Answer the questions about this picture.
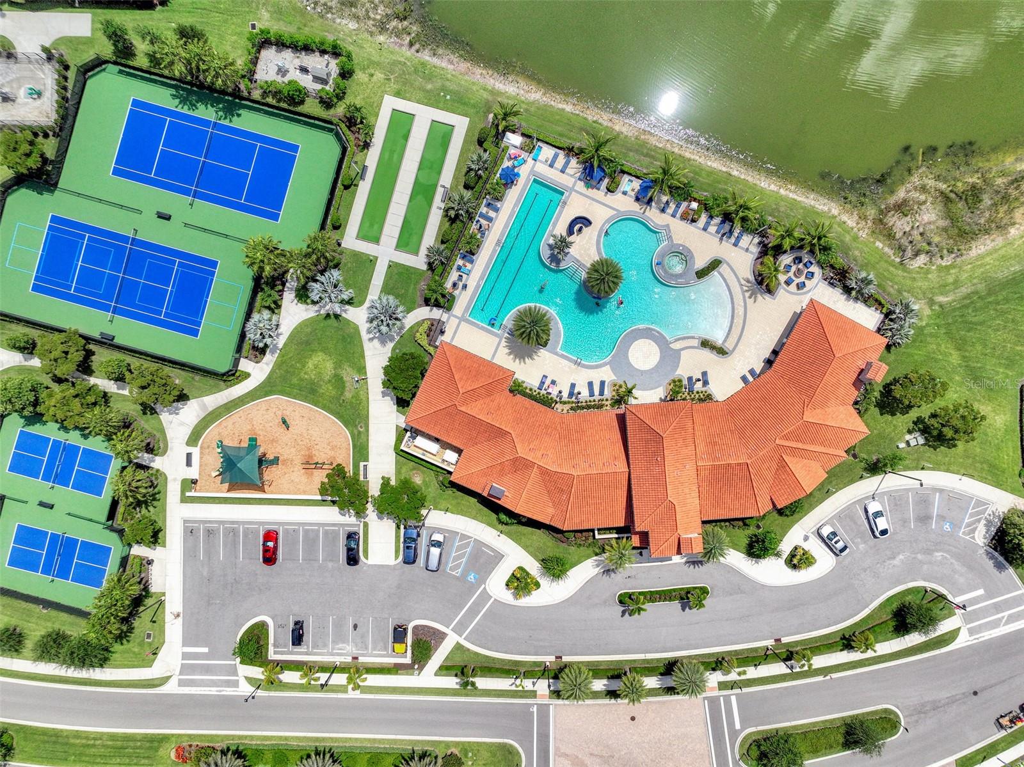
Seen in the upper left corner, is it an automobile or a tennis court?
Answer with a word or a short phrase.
tennis court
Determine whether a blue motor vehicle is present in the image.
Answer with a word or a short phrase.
Yes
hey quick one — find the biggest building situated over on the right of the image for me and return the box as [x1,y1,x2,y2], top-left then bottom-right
[404,298,889,558]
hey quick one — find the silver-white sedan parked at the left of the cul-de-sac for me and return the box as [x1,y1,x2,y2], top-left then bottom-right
[821,524,849,559]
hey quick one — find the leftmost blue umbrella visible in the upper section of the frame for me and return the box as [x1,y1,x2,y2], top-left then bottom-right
[499,166,517,184]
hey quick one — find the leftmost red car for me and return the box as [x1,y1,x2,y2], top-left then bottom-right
[259,531,277,566]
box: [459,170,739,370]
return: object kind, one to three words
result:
swimming pool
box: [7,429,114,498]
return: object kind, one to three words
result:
sports court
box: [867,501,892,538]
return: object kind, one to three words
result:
car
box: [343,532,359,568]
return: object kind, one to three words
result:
car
